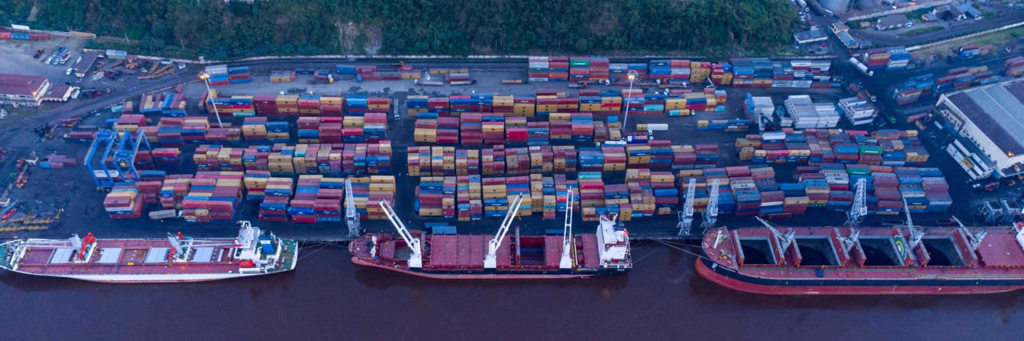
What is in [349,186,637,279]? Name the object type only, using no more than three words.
ship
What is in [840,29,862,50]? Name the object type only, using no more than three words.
shed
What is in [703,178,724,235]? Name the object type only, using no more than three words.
container crane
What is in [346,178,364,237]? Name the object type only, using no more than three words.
container crane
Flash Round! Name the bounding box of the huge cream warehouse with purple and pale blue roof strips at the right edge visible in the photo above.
[935,76,1024,179]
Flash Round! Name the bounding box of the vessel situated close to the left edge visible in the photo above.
[0,218,297,283]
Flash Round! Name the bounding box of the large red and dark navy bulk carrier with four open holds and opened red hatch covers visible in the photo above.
[697,197,1024,295]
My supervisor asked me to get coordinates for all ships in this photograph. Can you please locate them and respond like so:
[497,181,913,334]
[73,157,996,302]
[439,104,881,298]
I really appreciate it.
[0,218,297,283]
[349,186,637,279]
[697,197,1024,295]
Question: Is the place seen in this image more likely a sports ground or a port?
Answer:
port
